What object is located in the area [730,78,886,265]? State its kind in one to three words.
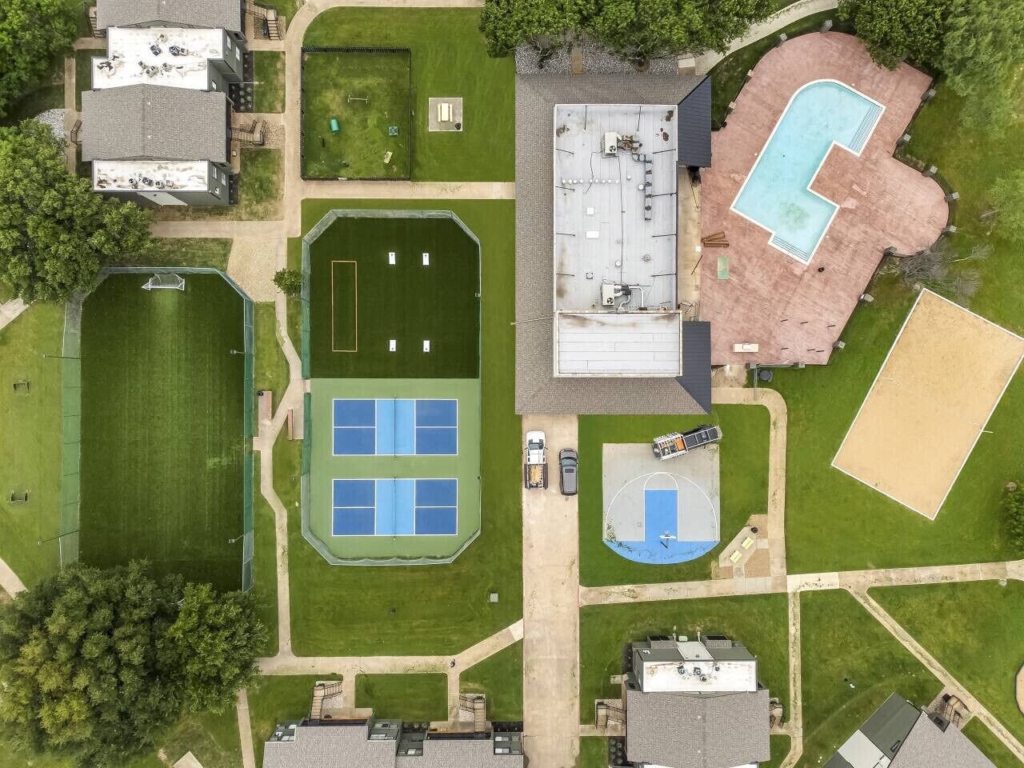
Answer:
swimming pool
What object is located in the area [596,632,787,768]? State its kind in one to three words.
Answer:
house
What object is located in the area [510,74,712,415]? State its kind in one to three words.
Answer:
building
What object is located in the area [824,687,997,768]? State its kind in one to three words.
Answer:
house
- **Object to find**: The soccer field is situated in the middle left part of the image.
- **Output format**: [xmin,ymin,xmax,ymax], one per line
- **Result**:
[81,273,254,611]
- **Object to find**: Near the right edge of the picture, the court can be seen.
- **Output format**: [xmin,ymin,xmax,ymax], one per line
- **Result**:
[832,289,1024,519]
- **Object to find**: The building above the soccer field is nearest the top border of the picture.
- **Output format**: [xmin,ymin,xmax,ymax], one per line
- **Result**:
[65,0,281,205]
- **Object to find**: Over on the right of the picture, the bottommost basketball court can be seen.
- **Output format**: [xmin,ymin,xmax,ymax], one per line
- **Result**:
[603,444,719,564]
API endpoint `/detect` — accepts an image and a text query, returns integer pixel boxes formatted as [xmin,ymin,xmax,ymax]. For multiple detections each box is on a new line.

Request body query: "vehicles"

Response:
[655,425,723,461]
[524,430,548,491]
[558,448,581,496]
